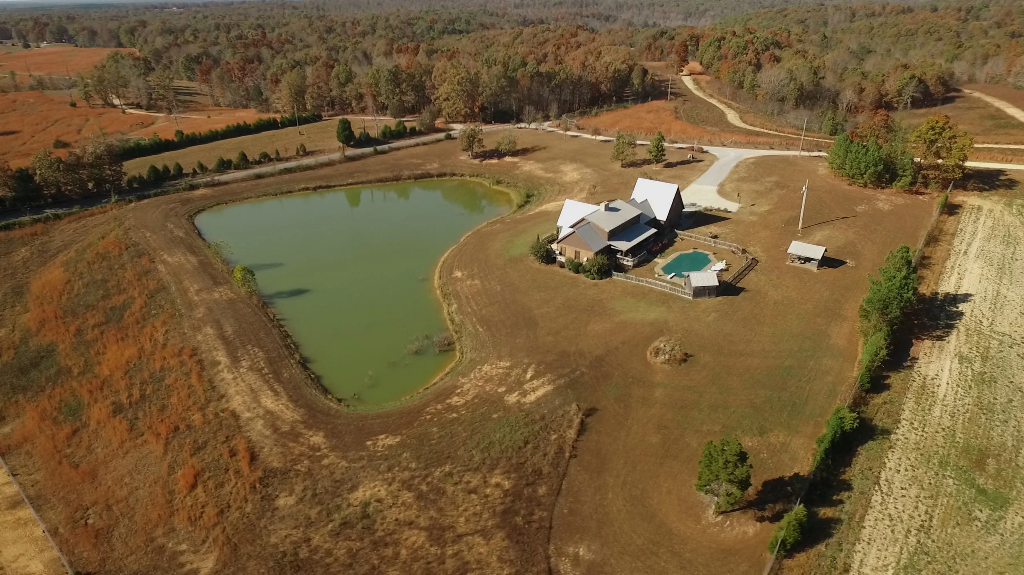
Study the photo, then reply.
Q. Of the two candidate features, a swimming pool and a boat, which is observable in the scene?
swimming pool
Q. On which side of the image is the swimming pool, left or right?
right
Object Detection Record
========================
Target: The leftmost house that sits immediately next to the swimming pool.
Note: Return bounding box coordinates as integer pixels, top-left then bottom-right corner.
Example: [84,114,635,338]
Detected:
[550,178,686,271]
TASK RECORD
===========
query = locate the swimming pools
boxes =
[660,250,713,278]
